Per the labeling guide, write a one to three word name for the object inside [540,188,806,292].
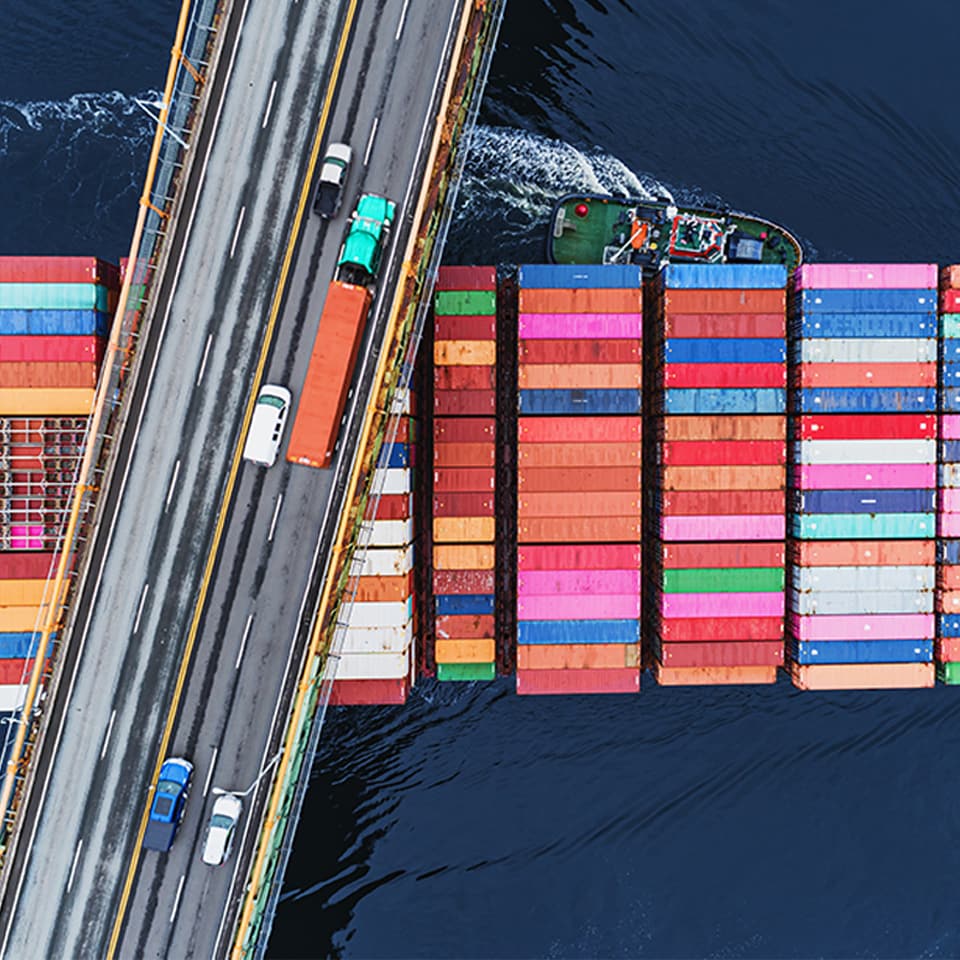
boat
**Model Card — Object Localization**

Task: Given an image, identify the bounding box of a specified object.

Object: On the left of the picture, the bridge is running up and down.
[0,0,511,960]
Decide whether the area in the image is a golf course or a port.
port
